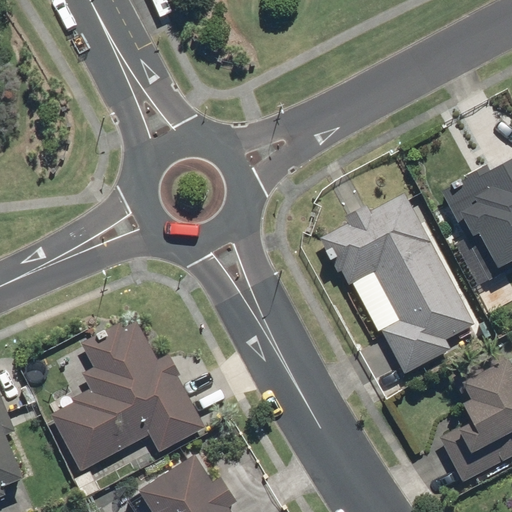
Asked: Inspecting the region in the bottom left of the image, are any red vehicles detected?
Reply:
No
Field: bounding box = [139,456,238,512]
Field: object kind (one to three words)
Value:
house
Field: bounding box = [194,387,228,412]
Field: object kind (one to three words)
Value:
vehicle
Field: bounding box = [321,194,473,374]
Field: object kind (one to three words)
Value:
house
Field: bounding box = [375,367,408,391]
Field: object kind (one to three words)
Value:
car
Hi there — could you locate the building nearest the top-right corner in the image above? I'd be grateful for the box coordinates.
[444,158,512,285]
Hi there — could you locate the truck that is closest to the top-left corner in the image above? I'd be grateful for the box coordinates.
[50,0,78,29]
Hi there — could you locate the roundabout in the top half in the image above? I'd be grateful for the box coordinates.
[159,156,226,224]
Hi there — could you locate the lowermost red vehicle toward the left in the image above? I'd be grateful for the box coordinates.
[165,221,200,238]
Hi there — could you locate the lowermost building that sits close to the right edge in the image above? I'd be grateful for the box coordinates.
[442,359,512,483]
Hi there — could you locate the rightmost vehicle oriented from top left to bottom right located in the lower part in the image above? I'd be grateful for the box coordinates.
[258,388,288,421]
